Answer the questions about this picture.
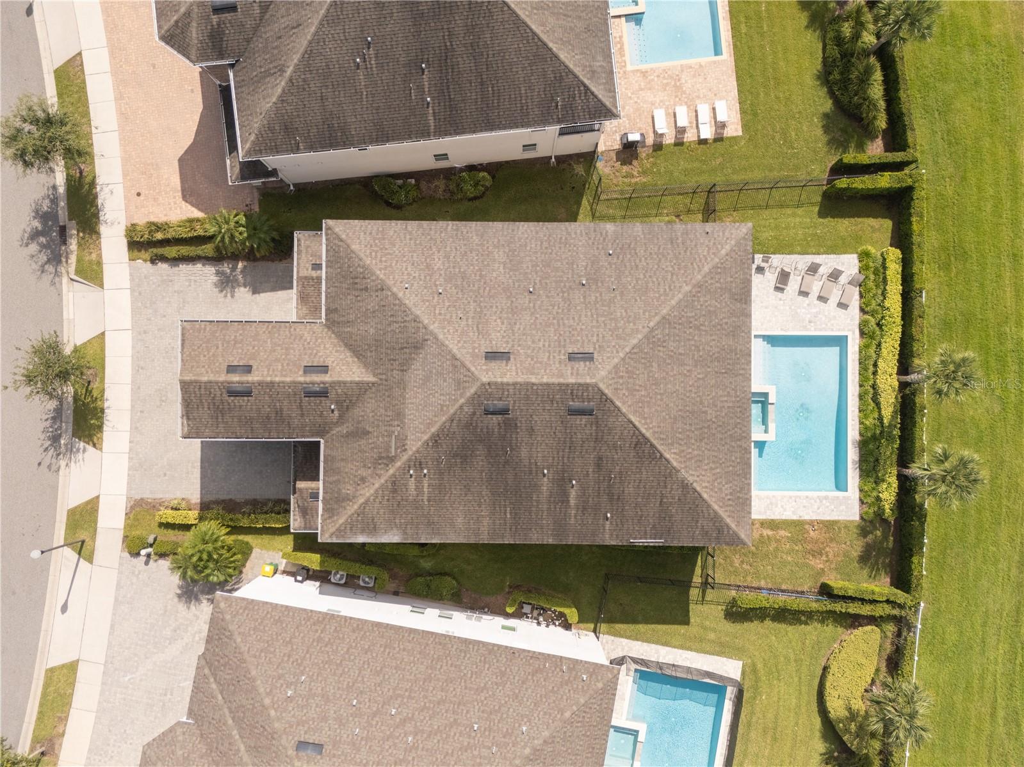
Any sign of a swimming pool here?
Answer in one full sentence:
Yes, this view includes a swimming pool.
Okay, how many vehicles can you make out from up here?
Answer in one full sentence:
There are no vehicles in this view.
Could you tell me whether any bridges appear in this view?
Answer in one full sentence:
No, there isn't any bridge down there.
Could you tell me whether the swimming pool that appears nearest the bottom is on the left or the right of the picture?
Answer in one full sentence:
The swimming pool that appears nearest the bottom appears in the right half of the scene.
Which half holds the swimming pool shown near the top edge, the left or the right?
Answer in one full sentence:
The swimming pool shown near the top edge is on the right side of the image.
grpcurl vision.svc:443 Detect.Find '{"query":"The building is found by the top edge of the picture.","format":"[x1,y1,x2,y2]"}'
[149,0,623,191]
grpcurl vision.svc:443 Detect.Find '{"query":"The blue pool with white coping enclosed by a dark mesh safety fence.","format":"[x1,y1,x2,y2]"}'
[602,665,731,767]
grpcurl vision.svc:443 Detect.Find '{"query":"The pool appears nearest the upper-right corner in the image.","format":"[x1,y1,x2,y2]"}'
[611,0,729,70]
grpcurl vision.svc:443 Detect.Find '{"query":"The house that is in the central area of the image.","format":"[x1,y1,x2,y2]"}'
[177,219,754,547]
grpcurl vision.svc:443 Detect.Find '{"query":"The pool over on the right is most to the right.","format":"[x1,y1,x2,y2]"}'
[752,332,851,495]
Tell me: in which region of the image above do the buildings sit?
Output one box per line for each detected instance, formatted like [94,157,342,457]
[149,0,623,191]
[177,219,754,547]
[138,575,621,767]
